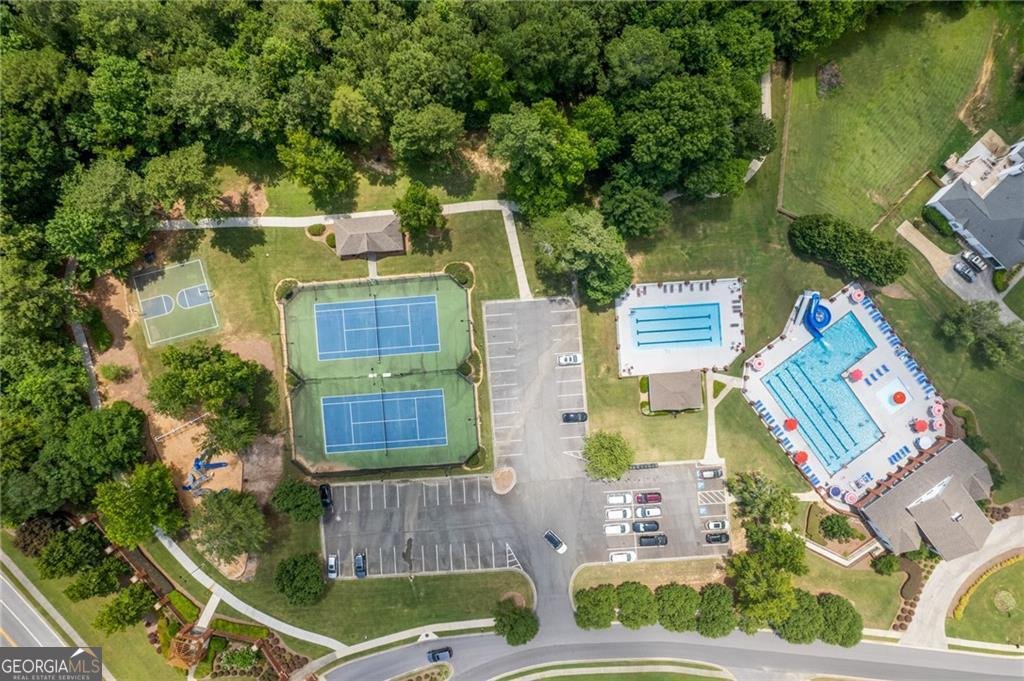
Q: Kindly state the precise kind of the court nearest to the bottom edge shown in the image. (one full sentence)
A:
Specifically, the court nearest to the bottom edge is a tennis court.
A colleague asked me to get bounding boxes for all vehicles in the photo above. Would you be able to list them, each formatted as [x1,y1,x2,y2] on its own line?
[954,261,978,282]
[606,507,632,519]
[607,493,633,505]
[354,552,366,577]
[327,554,338,578]
[705,532,729,544]
[633,520,659,532]
[698,467,723,479]
[704,519,729,530]
[604,522,630,535]
[562,411,587,423]
[426,646,452,661]
[543,530,567,553]
[635,492,662,504]
[320,483,333,508]
[638,534,667,547]
[961,251,988,274]
[609,550,635,563]
[635,506,661,519]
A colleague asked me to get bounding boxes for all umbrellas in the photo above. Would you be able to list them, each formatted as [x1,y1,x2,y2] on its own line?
[843,491,857,505]
[753,358,765,369]
[828,485,841,497]
[916,436,932,449]
[783,418,797,431]
[930,419,945,431]
[849,369,862,381]
[850,289,864,301]
[794,450,808,463]
[912,419,928,432]
[929,404,944,416]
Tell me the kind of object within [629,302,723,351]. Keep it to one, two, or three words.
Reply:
swimming pool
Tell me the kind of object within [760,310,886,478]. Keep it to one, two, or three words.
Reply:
swimming pool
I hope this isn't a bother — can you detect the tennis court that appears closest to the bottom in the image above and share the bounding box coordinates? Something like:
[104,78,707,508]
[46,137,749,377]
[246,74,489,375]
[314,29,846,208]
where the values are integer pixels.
[291,371,478,473]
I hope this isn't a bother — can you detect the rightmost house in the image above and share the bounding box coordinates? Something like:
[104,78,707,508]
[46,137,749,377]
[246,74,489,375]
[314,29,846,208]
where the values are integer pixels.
[929,163,1024,268]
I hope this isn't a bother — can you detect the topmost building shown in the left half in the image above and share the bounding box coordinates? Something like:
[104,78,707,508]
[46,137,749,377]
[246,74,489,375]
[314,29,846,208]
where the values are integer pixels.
[334,215,404,256]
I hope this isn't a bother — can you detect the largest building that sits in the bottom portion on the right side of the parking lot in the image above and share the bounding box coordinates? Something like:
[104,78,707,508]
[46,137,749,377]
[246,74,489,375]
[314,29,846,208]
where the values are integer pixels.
[854,439,993,561]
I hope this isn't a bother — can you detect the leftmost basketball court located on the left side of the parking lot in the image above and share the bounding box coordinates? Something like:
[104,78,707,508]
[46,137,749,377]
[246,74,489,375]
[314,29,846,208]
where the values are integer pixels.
[130,256,223,348]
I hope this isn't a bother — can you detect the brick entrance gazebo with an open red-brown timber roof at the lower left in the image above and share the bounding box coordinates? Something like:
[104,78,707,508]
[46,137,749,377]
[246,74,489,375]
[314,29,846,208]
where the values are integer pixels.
[177,612,225,660]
